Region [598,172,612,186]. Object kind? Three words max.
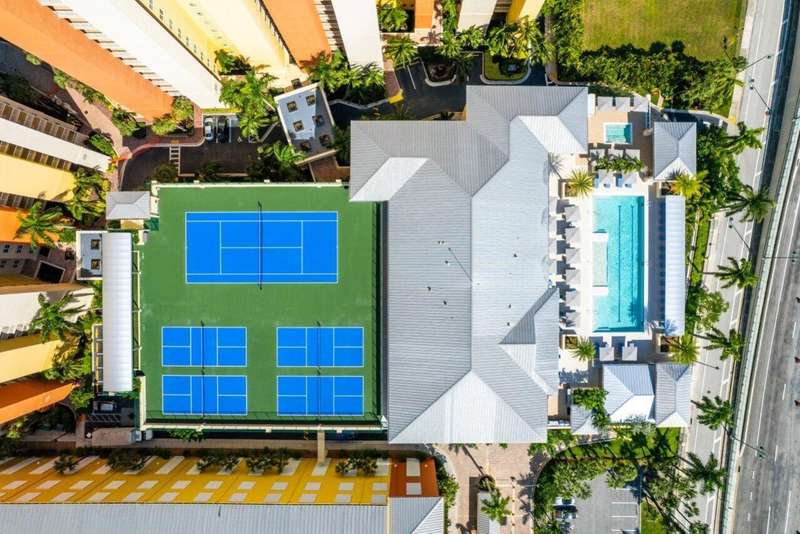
umbrella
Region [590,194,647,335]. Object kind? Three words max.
swimming pool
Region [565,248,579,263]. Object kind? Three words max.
umbrella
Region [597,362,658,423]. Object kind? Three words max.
building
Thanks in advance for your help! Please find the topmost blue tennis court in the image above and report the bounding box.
[186,203,338,292]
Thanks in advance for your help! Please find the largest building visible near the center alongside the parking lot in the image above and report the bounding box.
[351,86,588,443]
